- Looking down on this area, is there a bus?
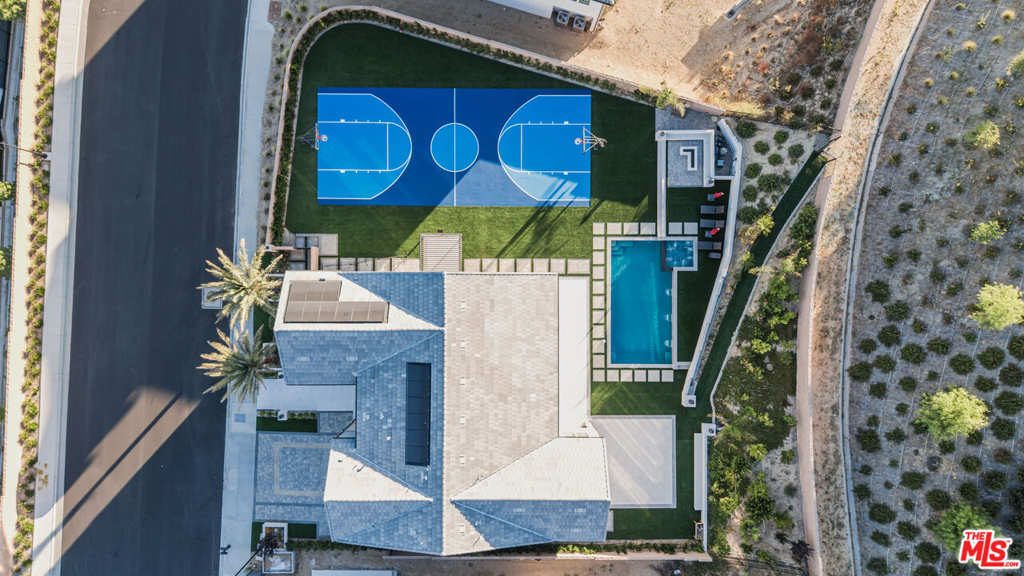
No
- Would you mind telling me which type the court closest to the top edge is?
basketball court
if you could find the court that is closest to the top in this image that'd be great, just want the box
[318,88,591,206]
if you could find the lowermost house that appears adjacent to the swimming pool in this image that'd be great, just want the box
[275,271,611,556]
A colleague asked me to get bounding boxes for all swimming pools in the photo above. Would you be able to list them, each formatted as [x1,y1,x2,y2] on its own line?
[606,236,698,369]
